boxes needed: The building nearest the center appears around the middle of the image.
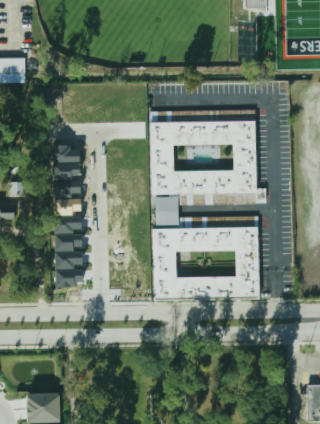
[156,196,180,226]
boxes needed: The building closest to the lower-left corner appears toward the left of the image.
[26,394,59,424]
